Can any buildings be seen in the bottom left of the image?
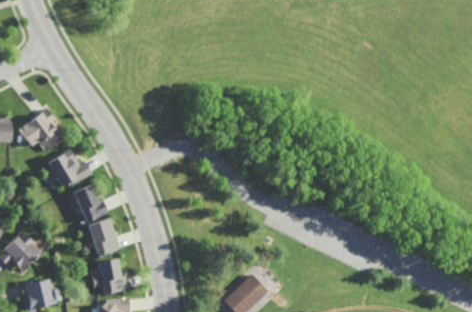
Yes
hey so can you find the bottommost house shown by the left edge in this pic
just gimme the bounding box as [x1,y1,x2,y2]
[16,277,56,312]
